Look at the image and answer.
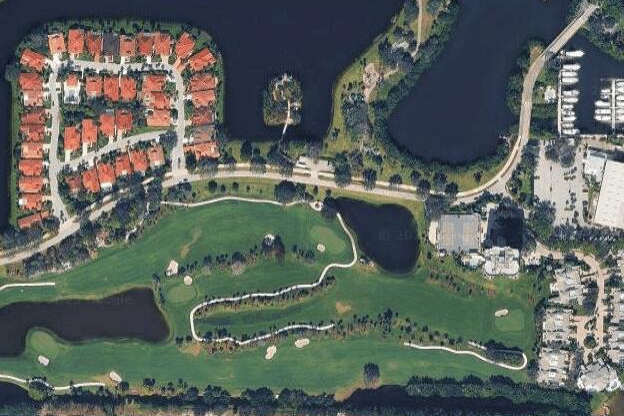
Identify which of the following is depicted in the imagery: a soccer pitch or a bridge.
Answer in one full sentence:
The image shows a bridge.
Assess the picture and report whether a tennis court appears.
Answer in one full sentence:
Yes, a tennis court can be made out from above.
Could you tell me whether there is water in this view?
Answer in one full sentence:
Yes, the picture does contain water.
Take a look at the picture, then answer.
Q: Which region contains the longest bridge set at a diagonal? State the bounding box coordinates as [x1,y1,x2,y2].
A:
[543,4,593,55]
